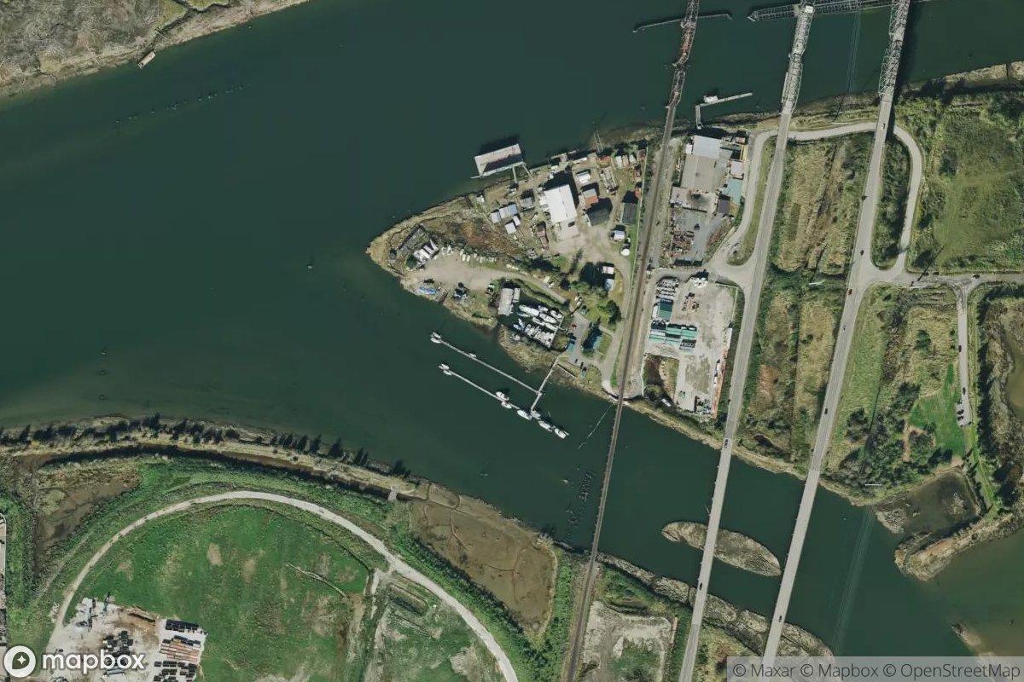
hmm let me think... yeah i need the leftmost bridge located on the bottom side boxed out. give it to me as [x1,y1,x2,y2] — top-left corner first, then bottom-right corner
[587,398,624,559]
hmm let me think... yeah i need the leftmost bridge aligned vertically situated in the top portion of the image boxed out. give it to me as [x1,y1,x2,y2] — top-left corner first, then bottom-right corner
[664,0,694,125]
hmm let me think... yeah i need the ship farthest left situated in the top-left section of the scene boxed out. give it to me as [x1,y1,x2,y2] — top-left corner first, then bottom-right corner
[138,50,156,67]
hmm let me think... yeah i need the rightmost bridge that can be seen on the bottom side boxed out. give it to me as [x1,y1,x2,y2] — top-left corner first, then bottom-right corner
[758,470,821,682]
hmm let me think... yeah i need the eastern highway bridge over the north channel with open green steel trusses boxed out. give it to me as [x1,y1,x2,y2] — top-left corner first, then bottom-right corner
[874,0,915,139]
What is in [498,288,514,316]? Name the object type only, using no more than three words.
building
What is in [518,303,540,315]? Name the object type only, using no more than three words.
boat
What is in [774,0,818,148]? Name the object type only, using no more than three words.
bridge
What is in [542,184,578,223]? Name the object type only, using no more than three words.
shed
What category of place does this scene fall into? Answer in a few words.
port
